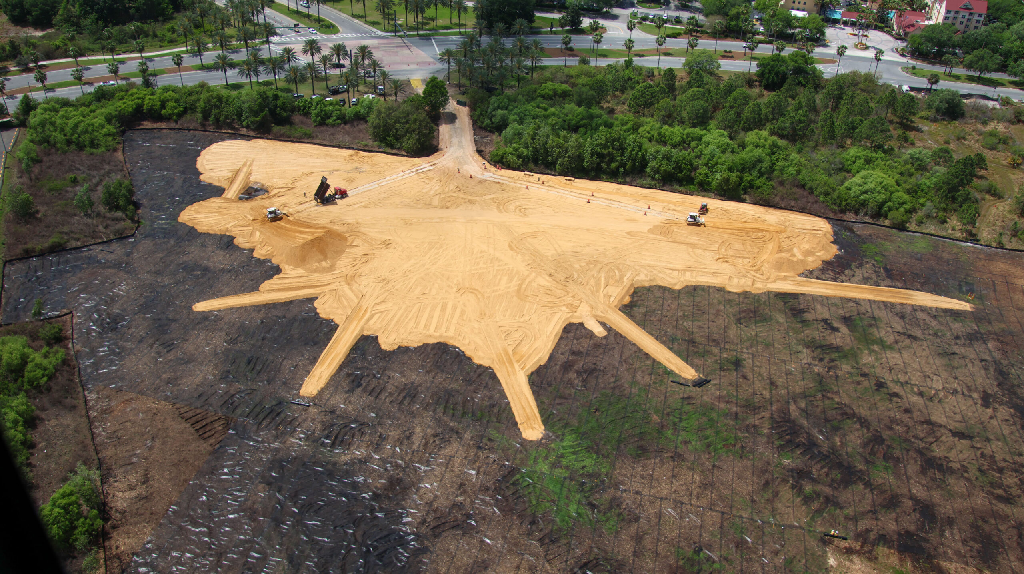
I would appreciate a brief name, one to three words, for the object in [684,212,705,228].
work vehicle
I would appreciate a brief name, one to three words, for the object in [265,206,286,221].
work vehicle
